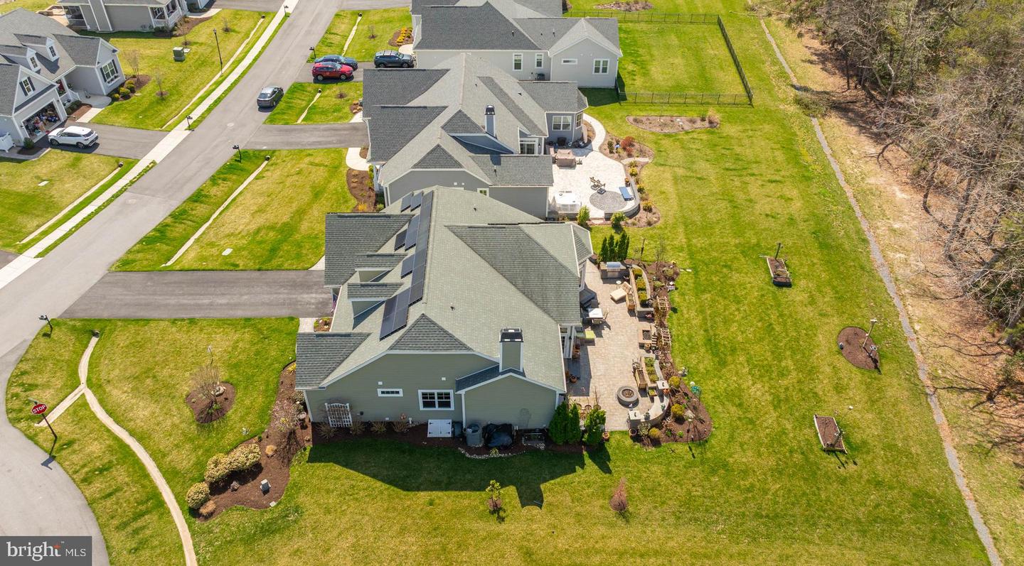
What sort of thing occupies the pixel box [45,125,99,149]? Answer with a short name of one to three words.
car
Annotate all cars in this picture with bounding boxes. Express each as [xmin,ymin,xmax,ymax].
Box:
[310,60,353,80]
[314,52,360,68]
[251,85,285,109]
[45,125,99,149]
[371,48,415,68]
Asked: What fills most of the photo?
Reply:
grass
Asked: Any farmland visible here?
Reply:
No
